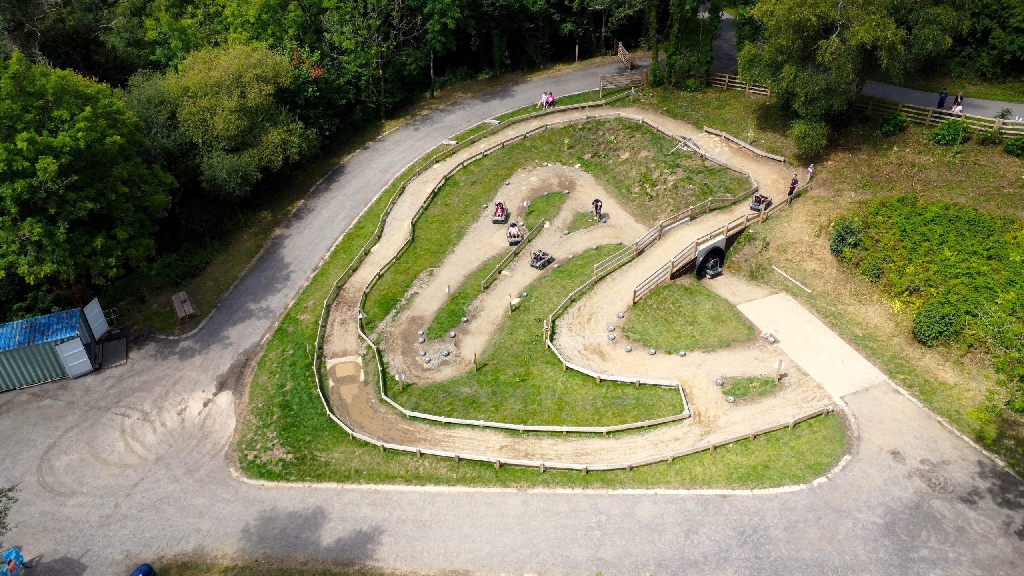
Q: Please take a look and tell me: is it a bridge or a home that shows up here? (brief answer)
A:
bridge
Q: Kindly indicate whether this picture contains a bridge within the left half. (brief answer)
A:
No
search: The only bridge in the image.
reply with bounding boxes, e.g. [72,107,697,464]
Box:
[576,194,787,312]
